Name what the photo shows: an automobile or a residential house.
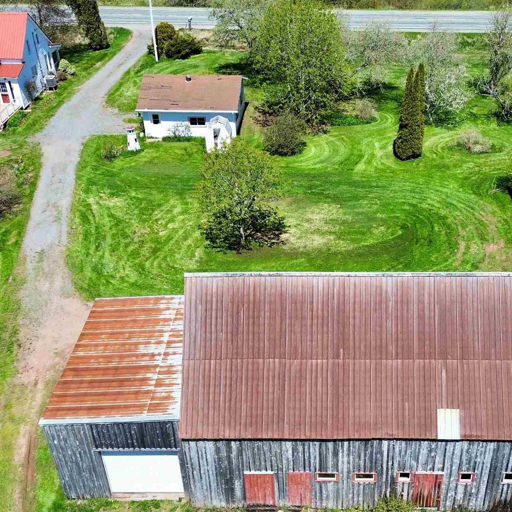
residential house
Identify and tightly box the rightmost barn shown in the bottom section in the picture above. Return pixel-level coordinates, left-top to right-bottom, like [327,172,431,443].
[179,269,512,512]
